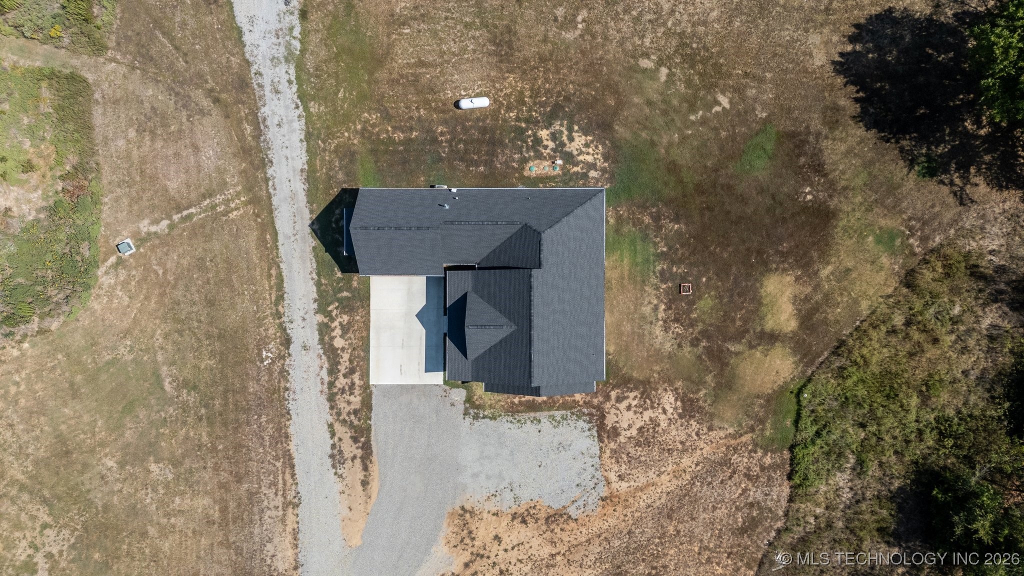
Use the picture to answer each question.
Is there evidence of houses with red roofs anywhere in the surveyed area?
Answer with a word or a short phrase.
No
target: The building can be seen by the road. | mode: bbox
[344,188,605,397]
